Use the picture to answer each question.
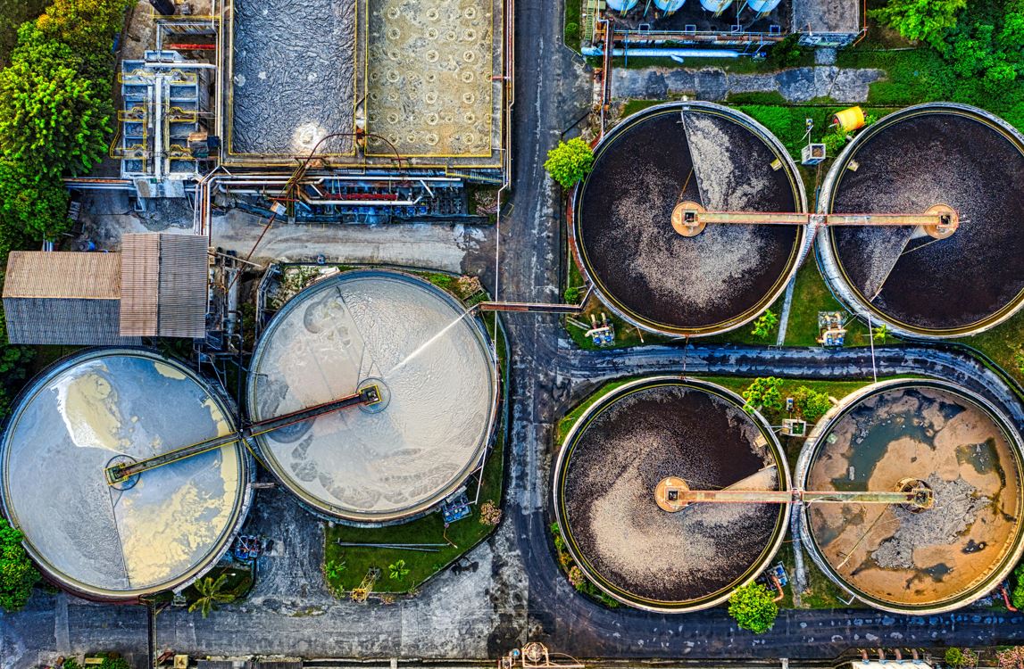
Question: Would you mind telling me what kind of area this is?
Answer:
industrial area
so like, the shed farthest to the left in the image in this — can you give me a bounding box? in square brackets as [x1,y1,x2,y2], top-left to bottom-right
[2,251,143,345]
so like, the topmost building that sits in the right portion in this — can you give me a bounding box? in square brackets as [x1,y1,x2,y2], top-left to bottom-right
[781,0,868,48]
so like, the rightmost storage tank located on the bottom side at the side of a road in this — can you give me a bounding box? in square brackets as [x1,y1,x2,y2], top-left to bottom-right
[789,376,1024,615]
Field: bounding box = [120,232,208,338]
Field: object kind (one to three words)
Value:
shed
